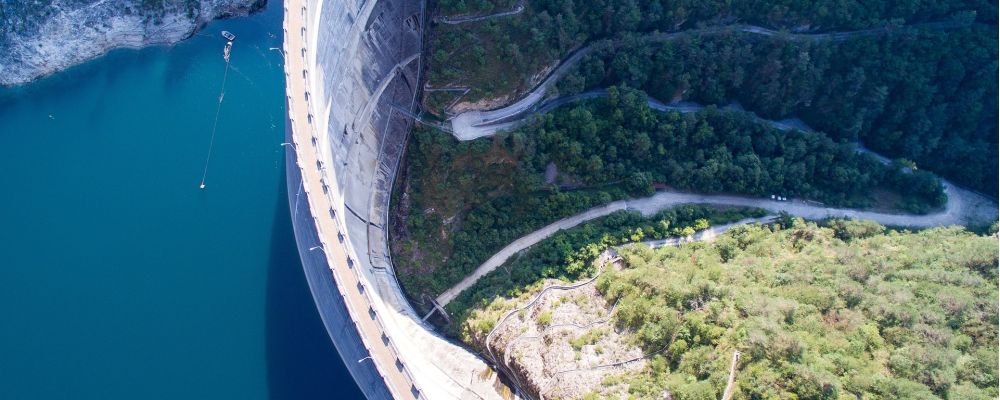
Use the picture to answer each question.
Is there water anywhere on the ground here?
Yes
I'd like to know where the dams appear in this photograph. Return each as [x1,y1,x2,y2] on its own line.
[282,0,521,400]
